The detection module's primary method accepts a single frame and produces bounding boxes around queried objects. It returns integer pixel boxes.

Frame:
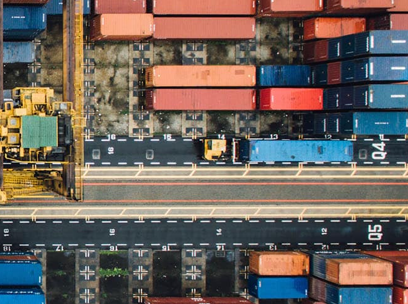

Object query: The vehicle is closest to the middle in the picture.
[198,137,228,164]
